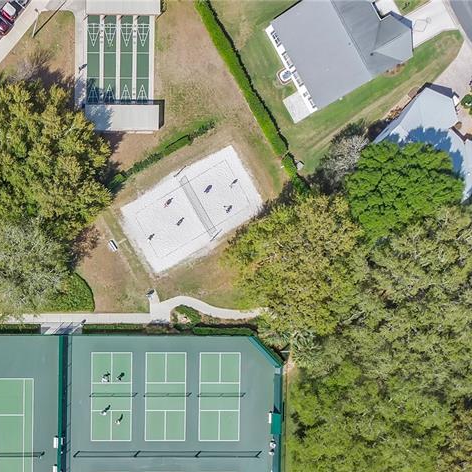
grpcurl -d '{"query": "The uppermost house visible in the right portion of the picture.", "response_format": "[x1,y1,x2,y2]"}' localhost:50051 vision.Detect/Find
[266,0,414,112]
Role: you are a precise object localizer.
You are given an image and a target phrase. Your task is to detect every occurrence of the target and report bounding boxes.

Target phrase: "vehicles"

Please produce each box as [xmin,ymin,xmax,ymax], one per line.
[0,17,10,36]
[14,0,29,13]
[1,5,17,24]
